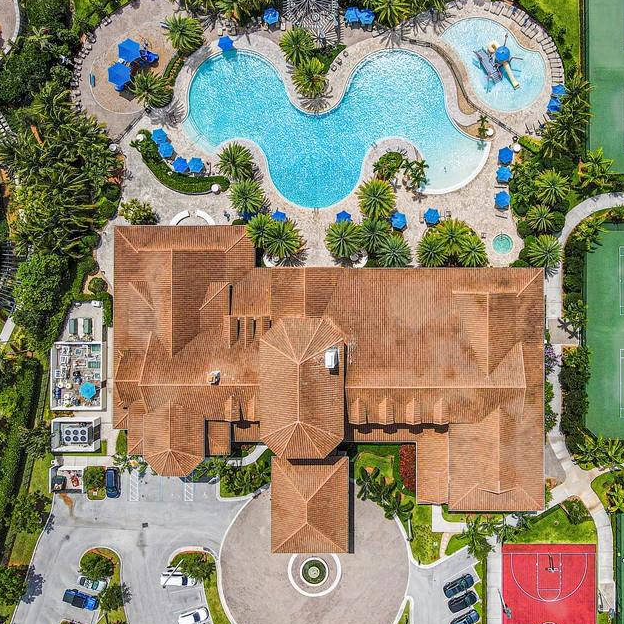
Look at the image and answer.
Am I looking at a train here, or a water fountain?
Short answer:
water fountain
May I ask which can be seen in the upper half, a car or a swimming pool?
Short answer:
swimming pool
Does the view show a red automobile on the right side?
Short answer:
No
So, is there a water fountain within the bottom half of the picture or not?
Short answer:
Yes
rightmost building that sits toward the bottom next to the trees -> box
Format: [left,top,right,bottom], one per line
[114,226,544,552]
